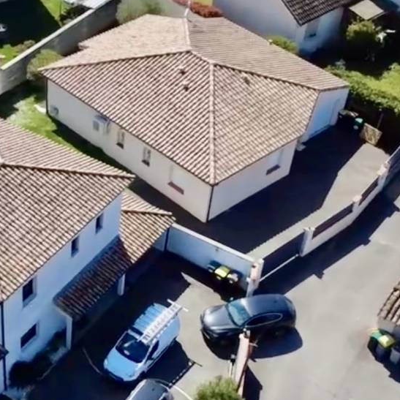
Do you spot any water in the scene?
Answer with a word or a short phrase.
No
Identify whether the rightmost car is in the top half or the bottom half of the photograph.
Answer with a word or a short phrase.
bottom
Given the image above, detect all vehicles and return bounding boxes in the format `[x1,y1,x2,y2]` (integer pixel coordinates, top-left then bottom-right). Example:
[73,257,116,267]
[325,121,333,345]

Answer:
[127,379,175,400]
[198,297,296,346]
[106,307,178,393]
